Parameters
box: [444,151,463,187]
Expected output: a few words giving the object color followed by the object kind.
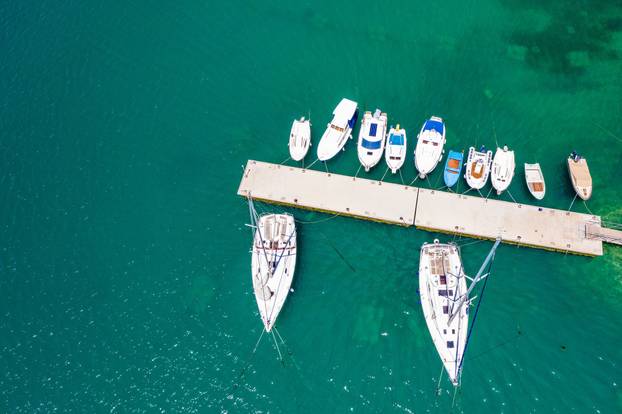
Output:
blue boat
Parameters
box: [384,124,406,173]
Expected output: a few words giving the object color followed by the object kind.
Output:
white boat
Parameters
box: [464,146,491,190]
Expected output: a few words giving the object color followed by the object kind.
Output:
white boat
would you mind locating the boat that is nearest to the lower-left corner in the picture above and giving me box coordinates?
[247,186,298,333]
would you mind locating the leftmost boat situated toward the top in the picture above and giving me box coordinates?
[287,108,312,163]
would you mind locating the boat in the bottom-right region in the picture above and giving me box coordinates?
[415,233,502,386]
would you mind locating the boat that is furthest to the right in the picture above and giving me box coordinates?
[566,151,592,202]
